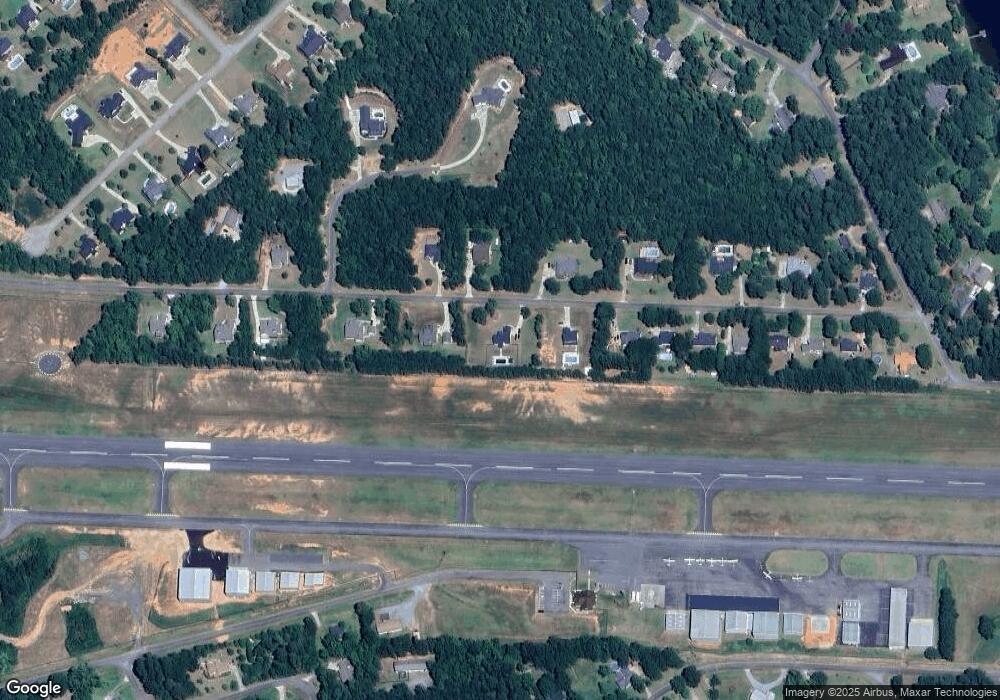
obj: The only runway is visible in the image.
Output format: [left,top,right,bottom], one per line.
[0,433,1000,500]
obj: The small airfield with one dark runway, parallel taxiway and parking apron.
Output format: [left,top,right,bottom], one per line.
[0,433,1000,646]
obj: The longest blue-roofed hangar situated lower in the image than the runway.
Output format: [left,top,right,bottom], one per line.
[689,594,779,613]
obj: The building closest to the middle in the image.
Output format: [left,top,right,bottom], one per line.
[492,326,514,347]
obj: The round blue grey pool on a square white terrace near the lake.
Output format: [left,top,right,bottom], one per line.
[903,43,921,61]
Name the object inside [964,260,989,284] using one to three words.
house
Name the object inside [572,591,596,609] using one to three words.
building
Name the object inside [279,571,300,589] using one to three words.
hangar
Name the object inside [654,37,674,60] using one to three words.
house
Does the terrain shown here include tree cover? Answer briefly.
Yes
